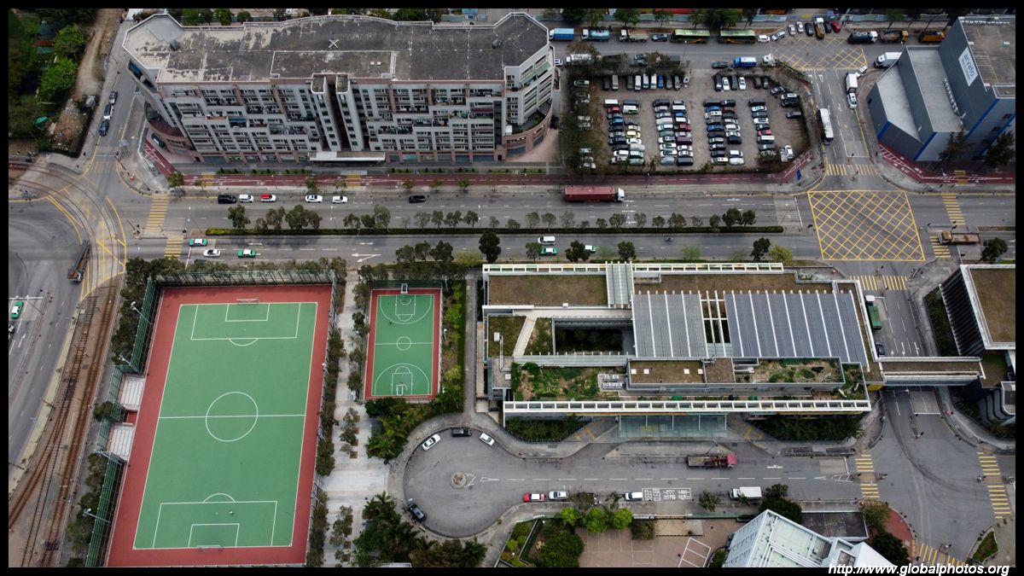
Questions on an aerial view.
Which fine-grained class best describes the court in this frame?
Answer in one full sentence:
Looking closely, the court is a basketball court.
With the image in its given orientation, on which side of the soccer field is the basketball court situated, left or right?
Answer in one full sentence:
To the right of the soccer field is where the basketball court appears.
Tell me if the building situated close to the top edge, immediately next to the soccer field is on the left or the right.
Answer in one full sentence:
The building situated close to the top edge, immediately next to the soccer field sits on the left side.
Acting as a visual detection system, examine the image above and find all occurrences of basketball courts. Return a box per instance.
[364,288,441,399]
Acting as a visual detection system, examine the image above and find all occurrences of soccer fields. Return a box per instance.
[105,286,331,576]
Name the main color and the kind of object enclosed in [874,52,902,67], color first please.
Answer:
white vehicle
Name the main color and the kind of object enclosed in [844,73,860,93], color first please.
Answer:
white vehicle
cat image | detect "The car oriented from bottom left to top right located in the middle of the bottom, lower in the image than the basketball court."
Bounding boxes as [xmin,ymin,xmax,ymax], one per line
[422,434,441,451]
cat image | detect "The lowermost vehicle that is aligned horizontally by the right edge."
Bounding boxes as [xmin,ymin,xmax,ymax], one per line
[938,233,981,245]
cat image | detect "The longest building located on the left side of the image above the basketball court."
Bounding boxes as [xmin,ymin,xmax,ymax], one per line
[123,12,561,163]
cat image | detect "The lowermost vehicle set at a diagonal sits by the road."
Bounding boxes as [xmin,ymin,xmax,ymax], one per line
[408,501,425,521]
